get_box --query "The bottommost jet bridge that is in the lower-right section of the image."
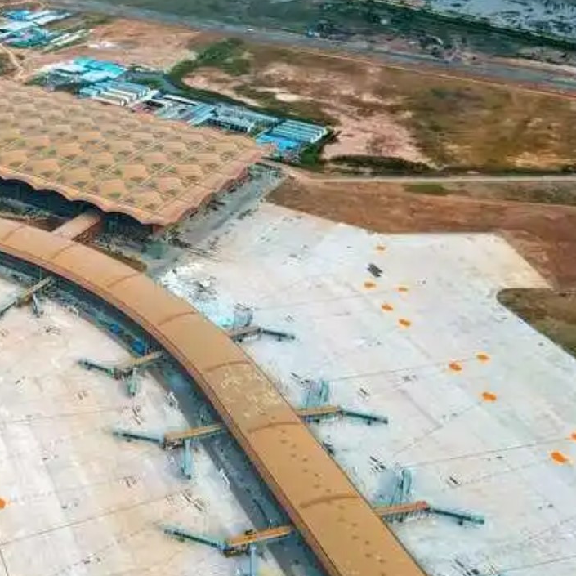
[373,470,486,530]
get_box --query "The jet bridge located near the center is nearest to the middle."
[227,312,294,345]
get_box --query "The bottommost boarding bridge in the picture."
[163,525,302,576]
